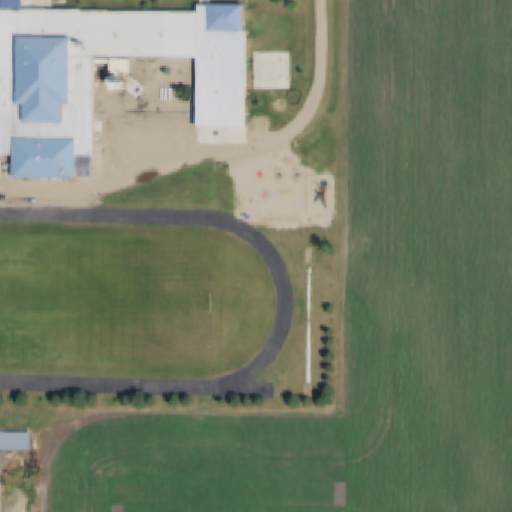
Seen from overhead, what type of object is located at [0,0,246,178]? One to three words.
building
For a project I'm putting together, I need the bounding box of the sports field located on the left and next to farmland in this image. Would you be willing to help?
[0,218,281,387]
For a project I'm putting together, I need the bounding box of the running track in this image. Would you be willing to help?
[0,208,294,398]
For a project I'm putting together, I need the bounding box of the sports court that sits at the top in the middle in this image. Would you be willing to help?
[254,53,289,88]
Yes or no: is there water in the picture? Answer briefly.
No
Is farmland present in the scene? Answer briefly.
Yes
